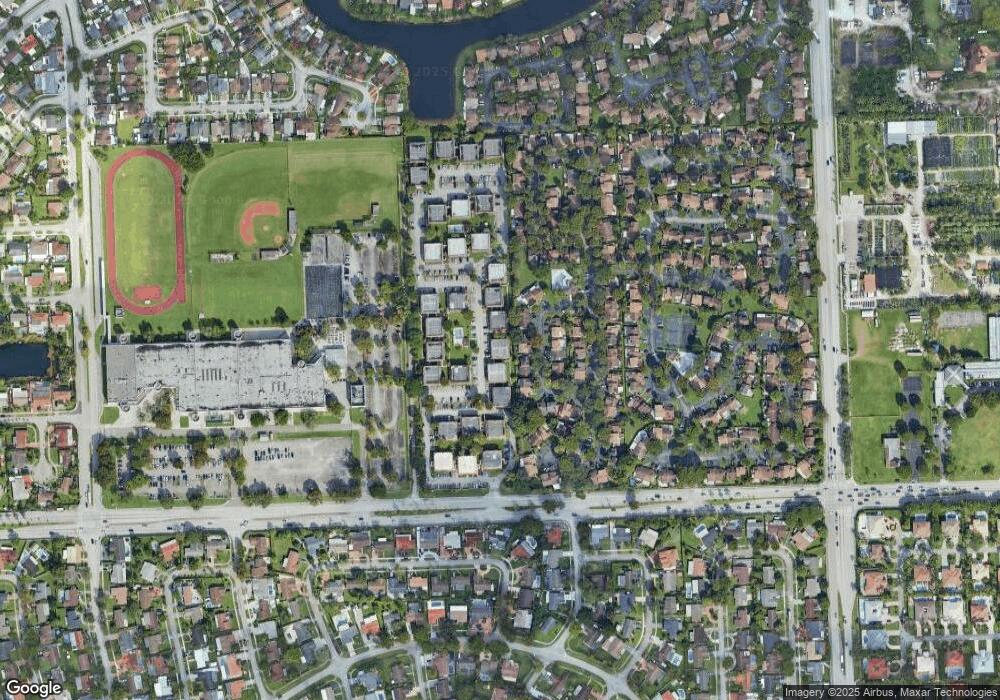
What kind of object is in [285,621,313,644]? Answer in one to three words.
house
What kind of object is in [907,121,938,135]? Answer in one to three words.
building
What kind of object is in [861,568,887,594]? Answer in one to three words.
house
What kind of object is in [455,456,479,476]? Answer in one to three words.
building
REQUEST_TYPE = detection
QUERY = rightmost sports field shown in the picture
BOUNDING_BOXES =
[288,142,397,231]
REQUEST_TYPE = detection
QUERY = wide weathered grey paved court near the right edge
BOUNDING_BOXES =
[940,311,987,328]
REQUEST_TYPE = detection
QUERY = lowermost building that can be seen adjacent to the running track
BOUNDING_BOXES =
[106,329,344,418]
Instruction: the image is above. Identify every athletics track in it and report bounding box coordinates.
[105,148,188,315]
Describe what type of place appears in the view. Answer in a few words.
residential area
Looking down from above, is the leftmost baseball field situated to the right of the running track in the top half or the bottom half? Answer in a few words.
top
